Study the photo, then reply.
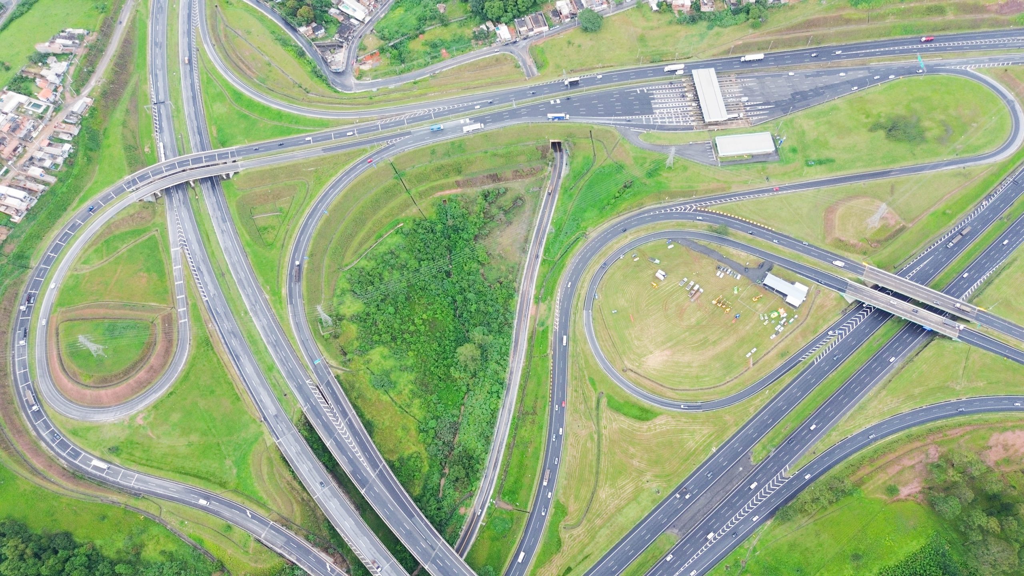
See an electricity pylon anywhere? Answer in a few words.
Yes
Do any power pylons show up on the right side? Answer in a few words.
Yes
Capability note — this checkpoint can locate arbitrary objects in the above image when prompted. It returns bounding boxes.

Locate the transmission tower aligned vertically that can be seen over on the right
[664,144,676,170]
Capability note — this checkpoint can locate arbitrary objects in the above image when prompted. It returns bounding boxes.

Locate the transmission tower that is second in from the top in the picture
[866,199,892,230]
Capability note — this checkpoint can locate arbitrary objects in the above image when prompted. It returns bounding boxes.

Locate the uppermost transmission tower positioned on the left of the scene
[318,304,335,329]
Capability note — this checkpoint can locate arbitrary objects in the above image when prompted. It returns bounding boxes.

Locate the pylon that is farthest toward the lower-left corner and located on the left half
[79,332,105,357]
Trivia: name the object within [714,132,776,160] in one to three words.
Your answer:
building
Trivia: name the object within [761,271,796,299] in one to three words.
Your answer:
shed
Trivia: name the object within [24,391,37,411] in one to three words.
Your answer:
vehicle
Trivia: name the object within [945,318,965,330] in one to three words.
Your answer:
vehicle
